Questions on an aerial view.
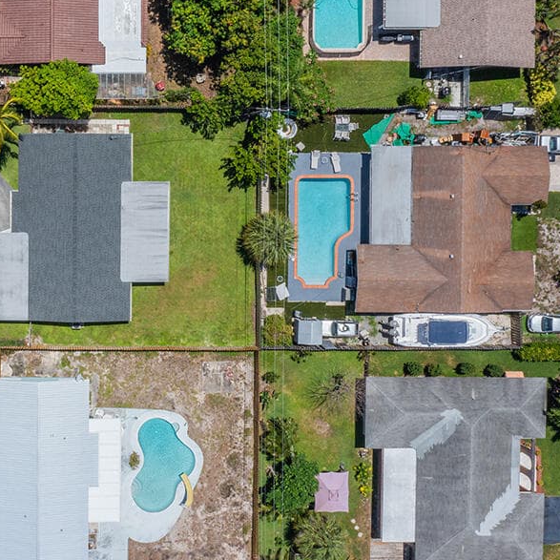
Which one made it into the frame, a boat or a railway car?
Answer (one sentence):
The one in the frame is a boat.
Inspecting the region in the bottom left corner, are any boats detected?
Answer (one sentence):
No, no boat is visible in the bottom left corner.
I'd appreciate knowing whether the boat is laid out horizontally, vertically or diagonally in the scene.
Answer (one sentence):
What the image shows is the boat lying horizontally.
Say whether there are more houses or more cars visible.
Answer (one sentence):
In this scene, the houses are more numerous than the cars.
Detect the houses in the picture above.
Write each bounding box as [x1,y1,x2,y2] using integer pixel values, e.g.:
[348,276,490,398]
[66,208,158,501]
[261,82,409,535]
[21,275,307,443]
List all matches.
[376,0,536,103]
[0,364,121,560]
[0,132,170,329]
[353,145,551,315]
[0,0,158,102]
[360,378,547,560]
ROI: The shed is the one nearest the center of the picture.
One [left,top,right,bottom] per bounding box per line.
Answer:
[289,317,322,345]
